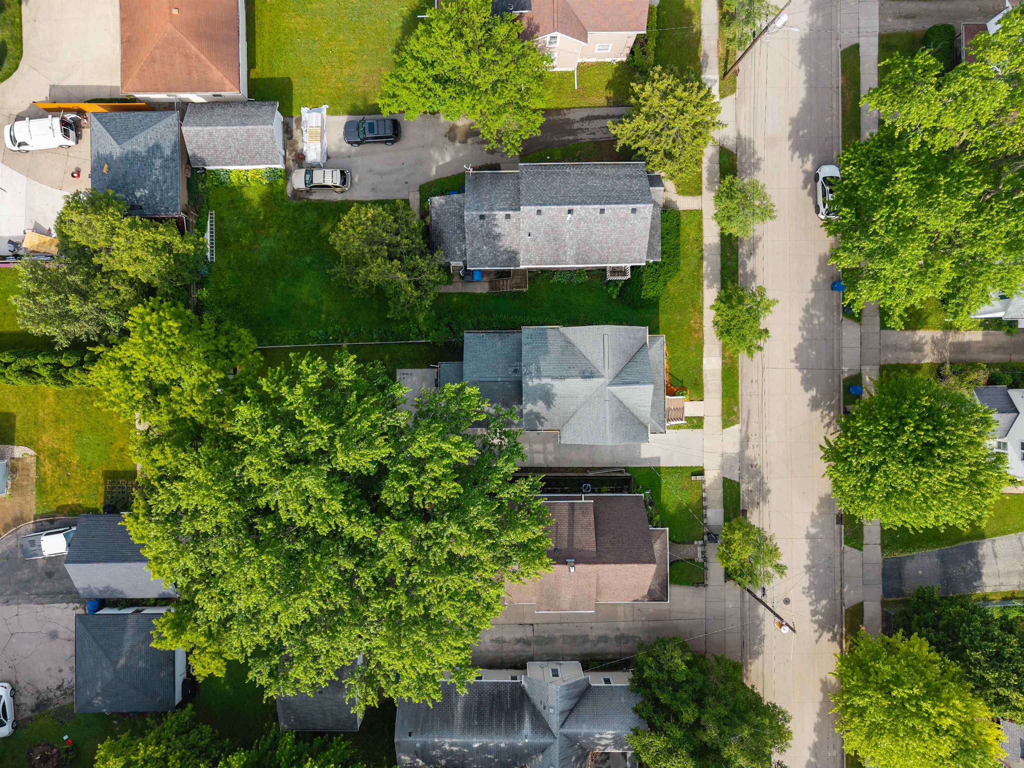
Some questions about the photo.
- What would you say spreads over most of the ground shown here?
trees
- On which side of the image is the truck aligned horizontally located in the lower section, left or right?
left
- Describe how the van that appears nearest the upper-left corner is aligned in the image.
horizontally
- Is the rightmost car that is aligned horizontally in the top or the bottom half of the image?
top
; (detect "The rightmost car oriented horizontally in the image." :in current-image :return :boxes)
[343,118,402,147]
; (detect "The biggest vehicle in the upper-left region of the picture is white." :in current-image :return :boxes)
[5,113,88,154]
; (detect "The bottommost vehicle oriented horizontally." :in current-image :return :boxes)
[20,524,77,558]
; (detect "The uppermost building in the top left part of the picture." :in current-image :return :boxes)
[119,0,248,102]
